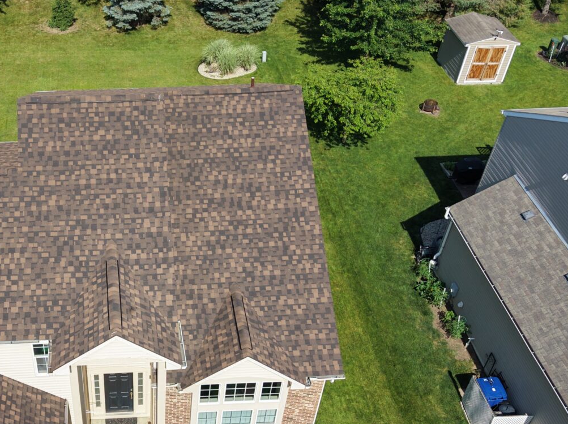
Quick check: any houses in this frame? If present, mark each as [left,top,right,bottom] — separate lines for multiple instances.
[0,67,346,424]
[438,106,568,424]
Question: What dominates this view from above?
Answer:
buildings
